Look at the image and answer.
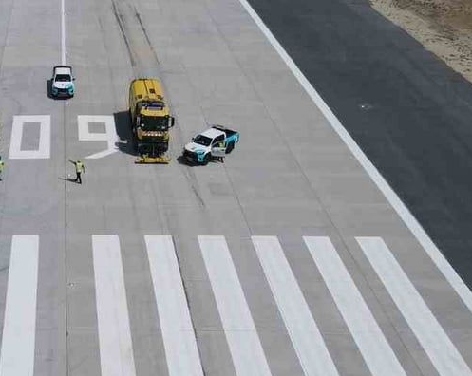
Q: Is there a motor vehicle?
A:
Yes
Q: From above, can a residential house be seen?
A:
No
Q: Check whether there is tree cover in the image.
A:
No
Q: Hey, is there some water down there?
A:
No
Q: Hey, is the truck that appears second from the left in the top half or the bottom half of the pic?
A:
top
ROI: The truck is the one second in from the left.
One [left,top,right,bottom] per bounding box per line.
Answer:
[132,79,173,164]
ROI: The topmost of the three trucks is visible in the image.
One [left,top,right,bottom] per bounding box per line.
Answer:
[50,66,75,95]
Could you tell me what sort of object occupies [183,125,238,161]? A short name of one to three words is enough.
truck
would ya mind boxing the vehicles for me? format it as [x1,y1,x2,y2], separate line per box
[132,79,173,164]
[183,125,238,161]
[50,66,75,95]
